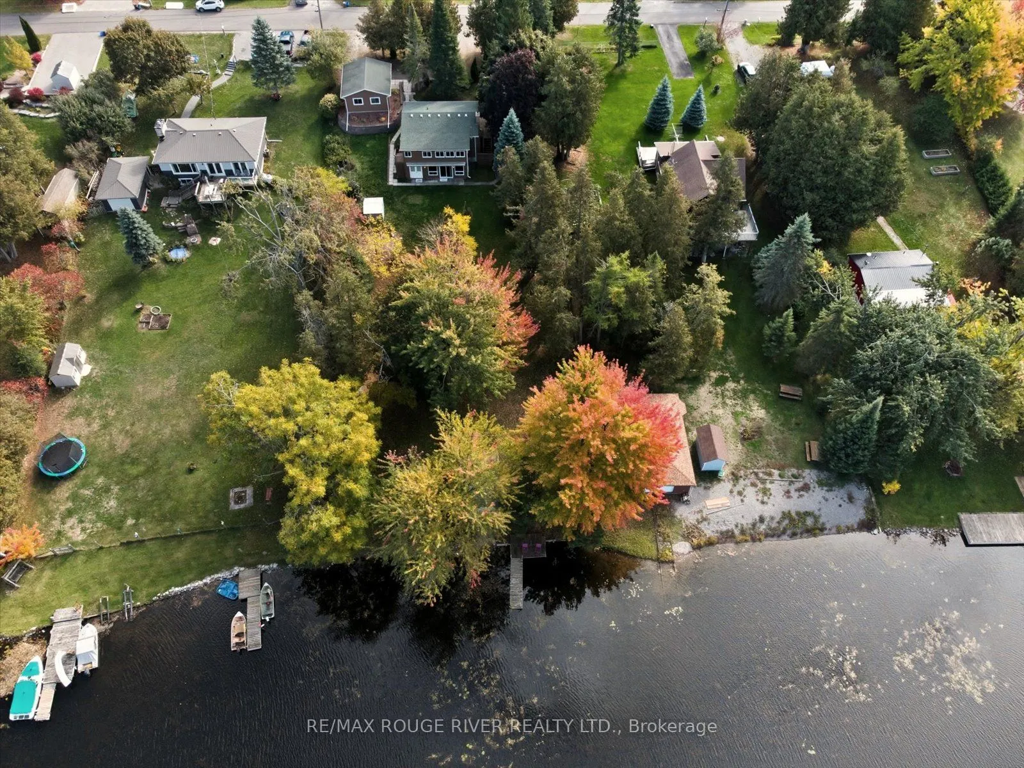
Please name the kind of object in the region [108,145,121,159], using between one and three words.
vehicle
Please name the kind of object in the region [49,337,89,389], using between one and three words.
shed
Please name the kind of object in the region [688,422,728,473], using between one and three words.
shed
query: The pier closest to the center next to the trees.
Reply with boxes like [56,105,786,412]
[493,539,546,610]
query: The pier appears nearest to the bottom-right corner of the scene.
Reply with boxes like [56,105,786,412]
[958,512,1024,548]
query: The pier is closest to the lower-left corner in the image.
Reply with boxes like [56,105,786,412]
[35,606,85,722]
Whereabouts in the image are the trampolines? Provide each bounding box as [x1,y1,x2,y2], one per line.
[33,425,100,481]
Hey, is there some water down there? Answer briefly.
Yes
